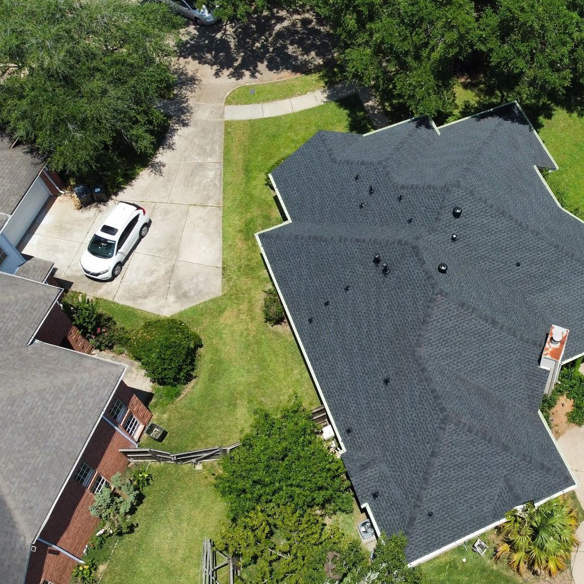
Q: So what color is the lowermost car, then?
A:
white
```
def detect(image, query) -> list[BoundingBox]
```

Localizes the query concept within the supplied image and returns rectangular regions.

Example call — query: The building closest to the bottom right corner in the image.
[253,99,584,564]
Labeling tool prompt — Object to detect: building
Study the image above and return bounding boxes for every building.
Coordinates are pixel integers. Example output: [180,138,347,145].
[0,131,167,584]
[253,99,584,564]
